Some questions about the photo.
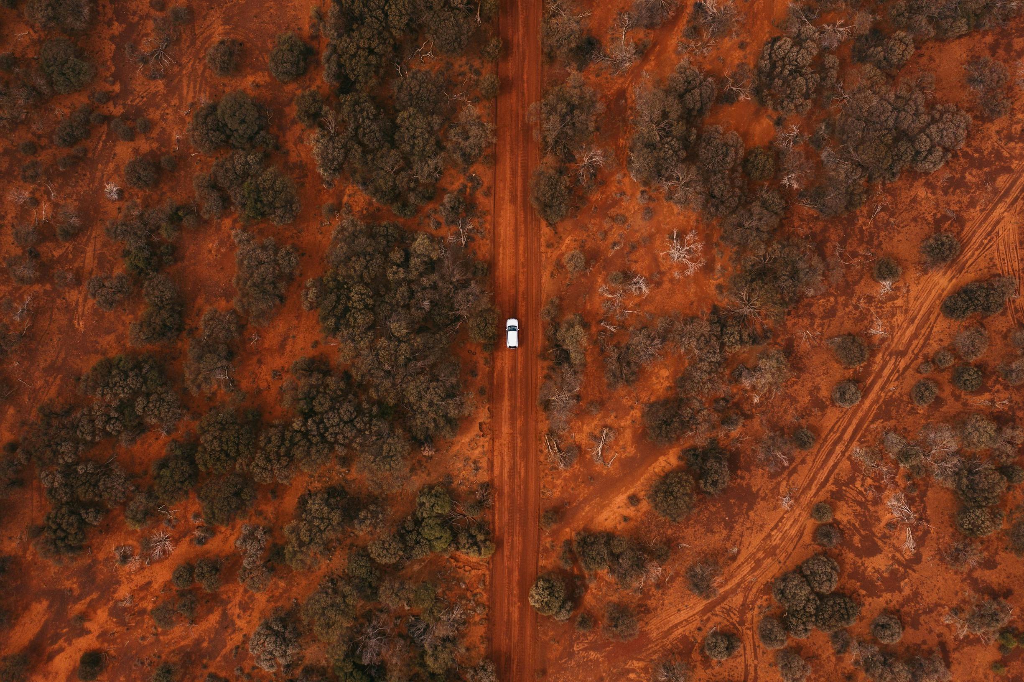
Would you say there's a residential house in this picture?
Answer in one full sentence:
No, I find no residential house anywhere in the image.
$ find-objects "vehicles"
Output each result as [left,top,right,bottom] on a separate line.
[506,318,520,349]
